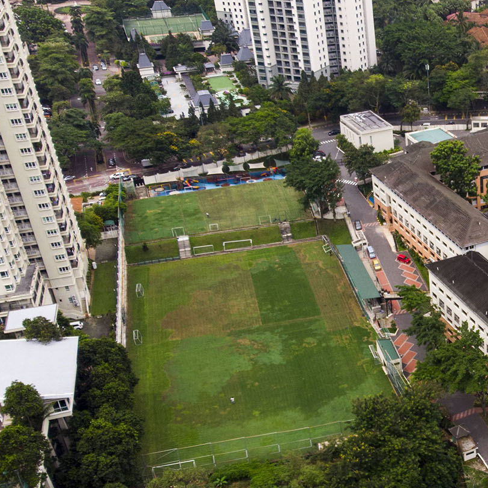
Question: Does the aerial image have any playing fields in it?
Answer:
Yes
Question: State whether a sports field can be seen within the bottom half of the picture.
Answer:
Yes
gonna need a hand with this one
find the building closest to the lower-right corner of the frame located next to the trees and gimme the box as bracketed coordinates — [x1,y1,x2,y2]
[455,437,486,463]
